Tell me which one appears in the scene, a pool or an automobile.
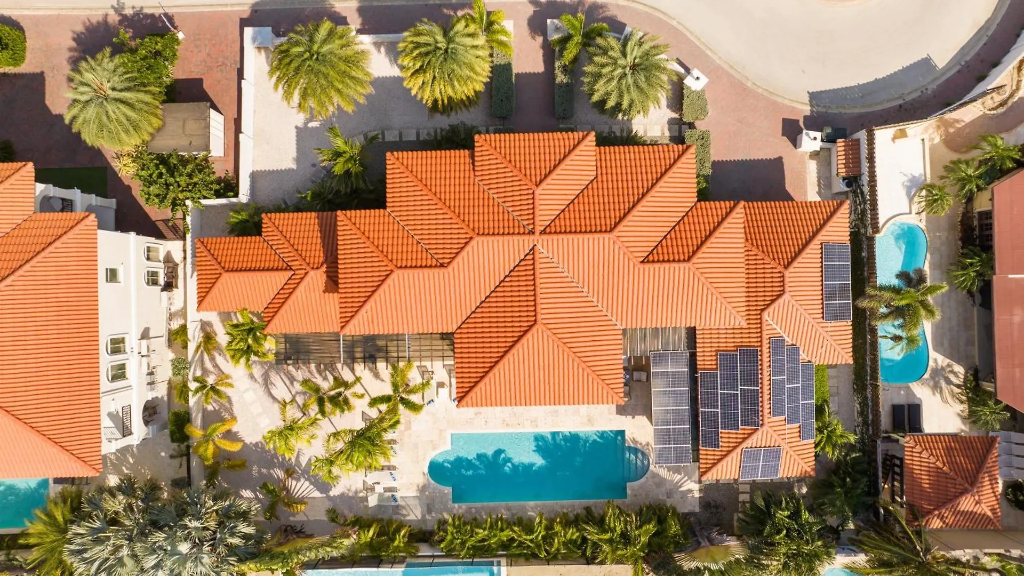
pool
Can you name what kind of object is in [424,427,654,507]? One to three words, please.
swimming pool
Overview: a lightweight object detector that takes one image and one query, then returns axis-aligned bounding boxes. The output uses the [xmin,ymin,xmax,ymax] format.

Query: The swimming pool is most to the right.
[877,219,932,386]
